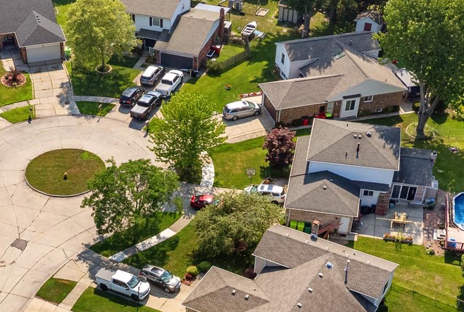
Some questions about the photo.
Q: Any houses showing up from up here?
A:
Yes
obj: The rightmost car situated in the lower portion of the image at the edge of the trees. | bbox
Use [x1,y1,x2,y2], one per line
[244,183,285,204]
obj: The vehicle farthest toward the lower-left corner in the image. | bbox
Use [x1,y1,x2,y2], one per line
[97,270,150,304]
